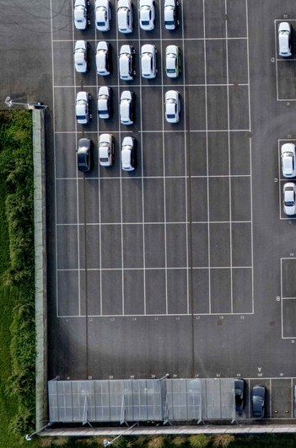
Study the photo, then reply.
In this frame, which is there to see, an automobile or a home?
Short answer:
automobile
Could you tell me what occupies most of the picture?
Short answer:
paved ground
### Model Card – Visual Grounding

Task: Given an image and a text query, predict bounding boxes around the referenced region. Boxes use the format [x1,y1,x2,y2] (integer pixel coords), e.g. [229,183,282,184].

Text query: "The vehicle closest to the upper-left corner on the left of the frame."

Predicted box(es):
[74,0,91,30]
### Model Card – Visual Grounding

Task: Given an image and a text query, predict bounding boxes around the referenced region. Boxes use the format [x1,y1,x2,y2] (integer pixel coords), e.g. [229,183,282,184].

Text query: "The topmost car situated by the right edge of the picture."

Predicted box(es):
[276,21,293,57]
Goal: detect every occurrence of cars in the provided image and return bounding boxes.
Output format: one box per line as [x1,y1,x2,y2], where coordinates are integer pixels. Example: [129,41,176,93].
[276,21,293,57]
[164,43,182,79]
[122,136,139,172]
[118,44,137,80]
[235,379,246,417]
[74,39,92,73]
[97,84,115,120]
[116,0,135,34]
[140,43,158,79]
[283,181,296,216]
[75,90,94,125]
[74,0,91,30]
[140,0,157,32]
[163,0,180,31]
[251,384,268,420]
[98,132,117,168]
[280,142,296,178]
[163,89,182,124]
[120,90,137,125]
[76,139,95,171]
[96,40,114,76]
[94,0,113,33]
